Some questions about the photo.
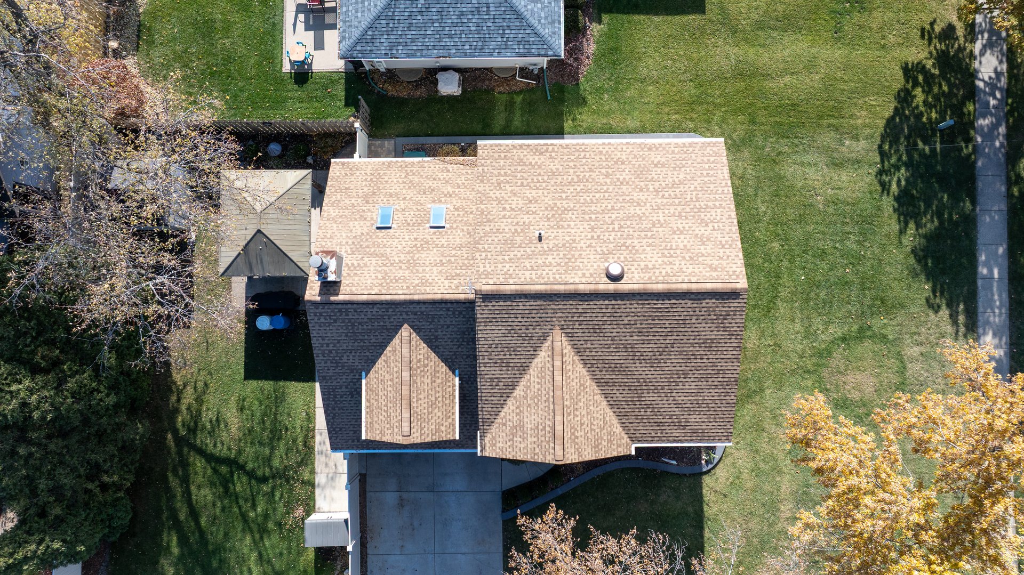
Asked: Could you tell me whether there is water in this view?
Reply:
No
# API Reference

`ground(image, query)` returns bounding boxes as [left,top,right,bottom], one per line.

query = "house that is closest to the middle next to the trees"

[305,136,748,465]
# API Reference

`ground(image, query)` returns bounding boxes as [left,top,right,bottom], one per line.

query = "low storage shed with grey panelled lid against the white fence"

[304,512,348,547]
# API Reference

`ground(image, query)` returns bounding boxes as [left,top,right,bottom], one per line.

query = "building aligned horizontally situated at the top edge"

[335,0,565,99]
